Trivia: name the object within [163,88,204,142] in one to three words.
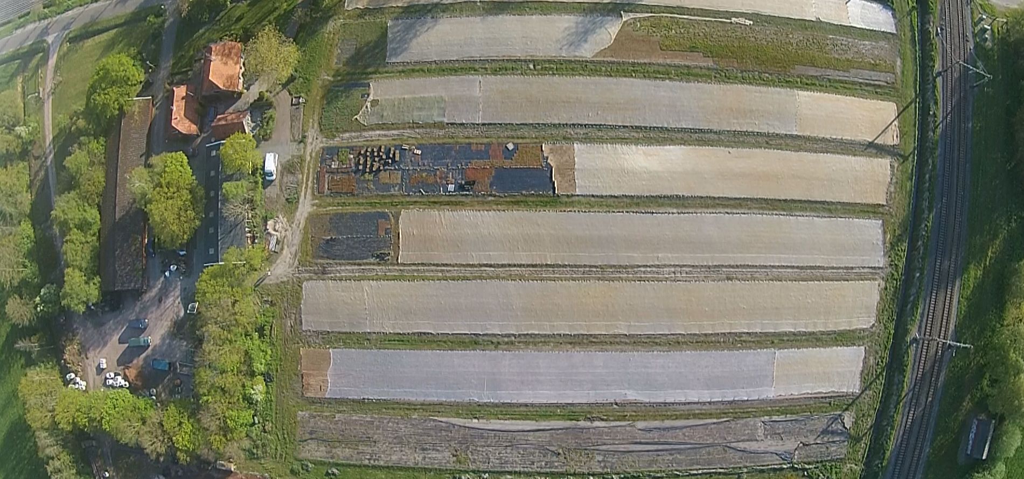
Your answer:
house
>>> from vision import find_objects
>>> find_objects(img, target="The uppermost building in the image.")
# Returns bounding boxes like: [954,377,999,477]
[198,46,247,102]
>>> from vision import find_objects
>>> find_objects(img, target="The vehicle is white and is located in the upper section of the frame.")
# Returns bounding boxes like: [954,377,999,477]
[263,150,278,179]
